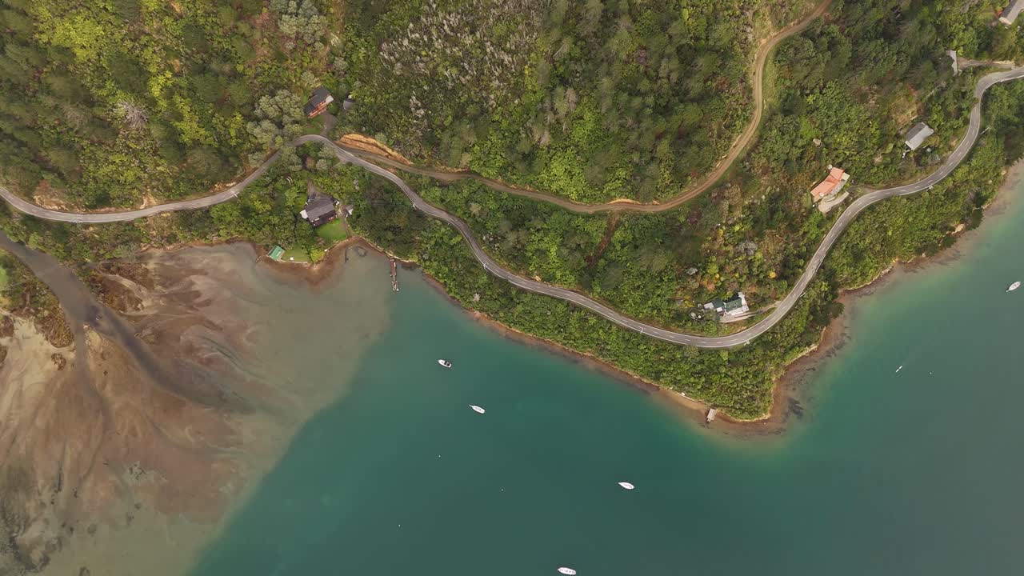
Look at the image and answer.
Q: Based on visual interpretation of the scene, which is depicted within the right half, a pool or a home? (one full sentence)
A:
The feature located within the right half is a home.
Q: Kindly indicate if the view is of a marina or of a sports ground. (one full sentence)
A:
The area seen from above is a marina.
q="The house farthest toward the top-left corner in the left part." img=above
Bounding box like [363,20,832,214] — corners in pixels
[303,85,334,122]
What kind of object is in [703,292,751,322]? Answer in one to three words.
house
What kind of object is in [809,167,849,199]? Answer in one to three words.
house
